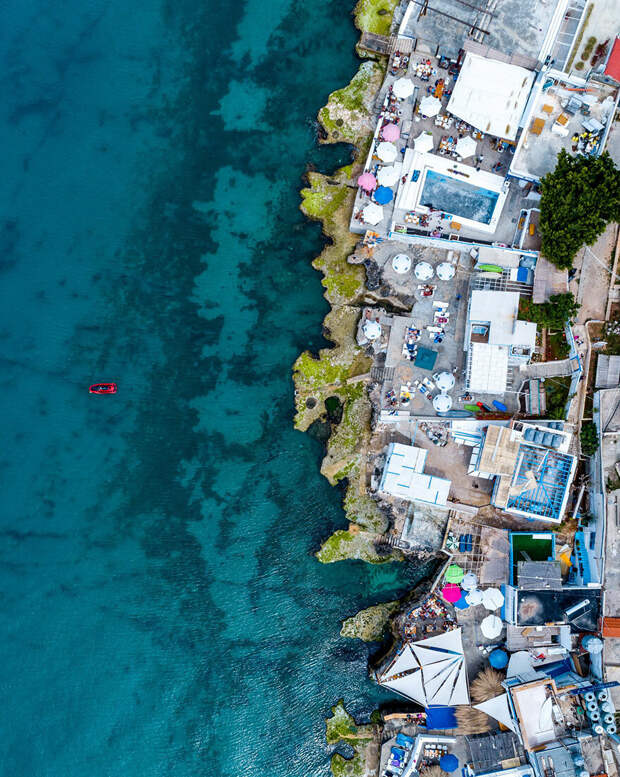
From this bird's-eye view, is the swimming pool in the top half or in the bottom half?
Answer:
top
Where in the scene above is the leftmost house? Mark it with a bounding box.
[376,441,451,505]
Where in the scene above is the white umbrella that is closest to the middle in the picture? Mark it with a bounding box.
[364,321,380,338]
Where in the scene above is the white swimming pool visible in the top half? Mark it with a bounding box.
[397,149,506,235]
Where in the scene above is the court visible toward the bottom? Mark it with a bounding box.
[508,530,555,587]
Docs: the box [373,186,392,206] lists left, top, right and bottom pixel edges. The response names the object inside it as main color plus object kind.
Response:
blue umbrella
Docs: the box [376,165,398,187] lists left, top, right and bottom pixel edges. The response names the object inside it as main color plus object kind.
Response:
white umbrella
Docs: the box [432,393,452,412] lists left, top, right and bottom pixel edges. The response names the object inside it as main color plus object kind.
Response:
white umbrella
